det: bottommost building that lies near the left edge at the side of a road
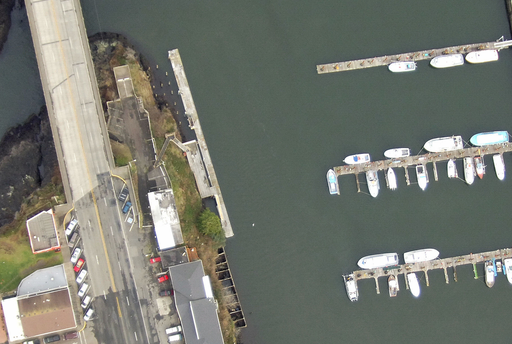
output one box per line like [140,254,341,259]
[2,288,77,344]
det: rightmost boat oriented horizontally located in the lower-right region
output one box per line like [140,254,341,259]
[403,249,440,263]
